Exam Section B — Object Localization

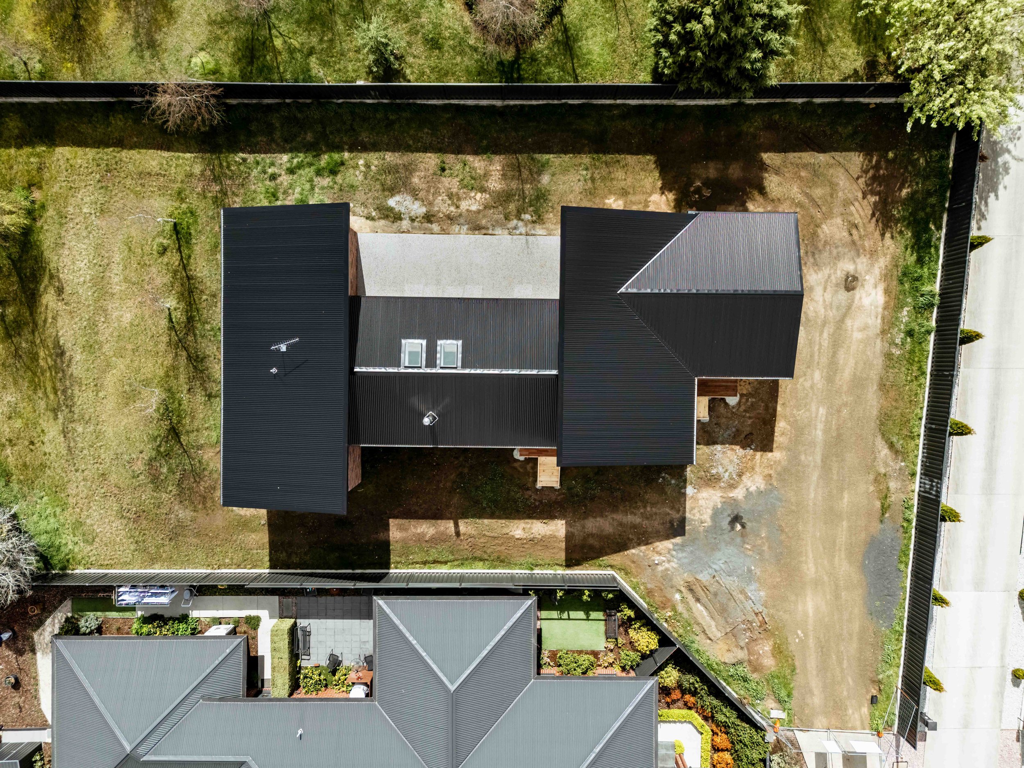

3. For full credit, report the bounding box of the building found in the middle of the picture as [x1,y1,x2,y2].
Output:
[220,202,804,515]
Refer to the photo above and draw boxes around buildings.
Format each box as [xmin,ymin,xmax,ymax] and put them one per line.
[48,590,660,768]
[220,202,804,515]
[0,741,43,768]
